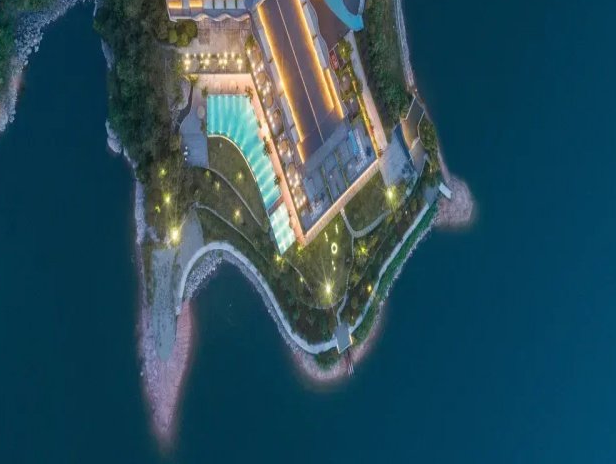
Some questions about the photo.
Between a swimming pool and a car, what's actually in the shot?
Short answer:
swimming pool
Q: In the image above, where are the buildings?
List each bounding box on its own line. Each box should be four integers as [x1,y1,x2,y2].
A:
[336,323,352,353]
[167,0,380,237]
